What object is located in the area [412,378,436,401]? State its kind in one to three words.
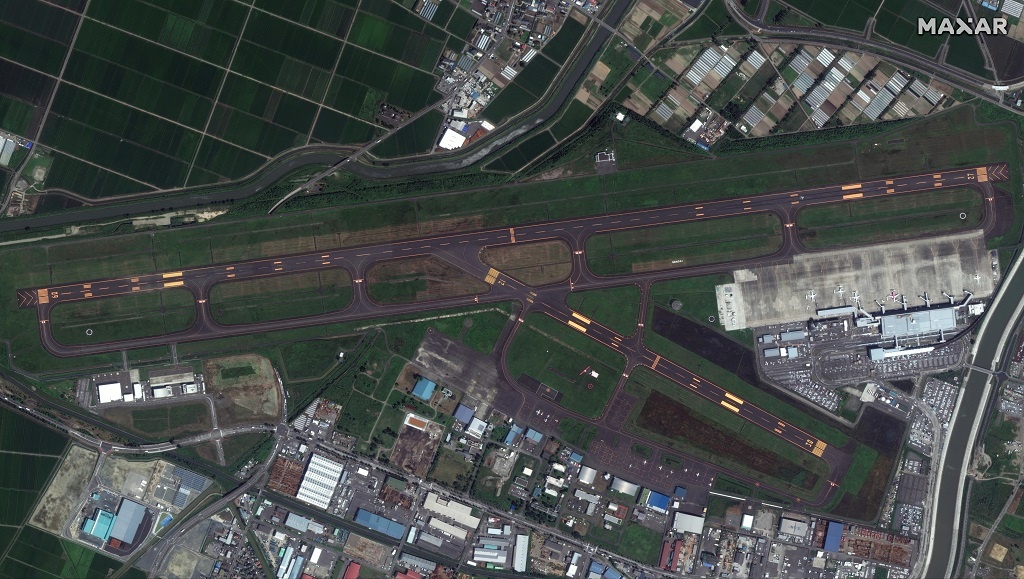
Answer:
hangar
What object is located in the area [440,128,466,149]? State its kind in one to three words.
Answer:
building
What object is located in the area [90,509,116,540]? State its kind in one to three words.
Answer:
building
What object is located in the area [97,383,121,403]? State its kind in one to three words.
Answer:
hangar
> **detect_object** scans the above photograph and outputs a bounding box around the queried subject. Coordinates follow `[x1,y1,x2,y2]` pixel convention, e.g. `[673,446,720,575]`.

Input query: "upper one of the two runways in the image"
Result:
[17,165,1008,306]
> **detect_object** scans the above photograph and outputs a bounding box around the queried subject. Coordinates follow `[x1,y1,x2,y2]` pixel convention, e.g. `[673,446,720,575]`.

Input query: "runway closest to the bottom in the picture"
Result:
[483,267,828,457]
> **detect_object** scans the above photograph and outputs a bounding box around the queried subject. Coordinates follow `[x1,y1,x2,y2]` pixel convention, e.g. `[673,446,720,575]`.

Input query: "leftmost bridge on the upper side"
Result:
[268,134,385,213]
